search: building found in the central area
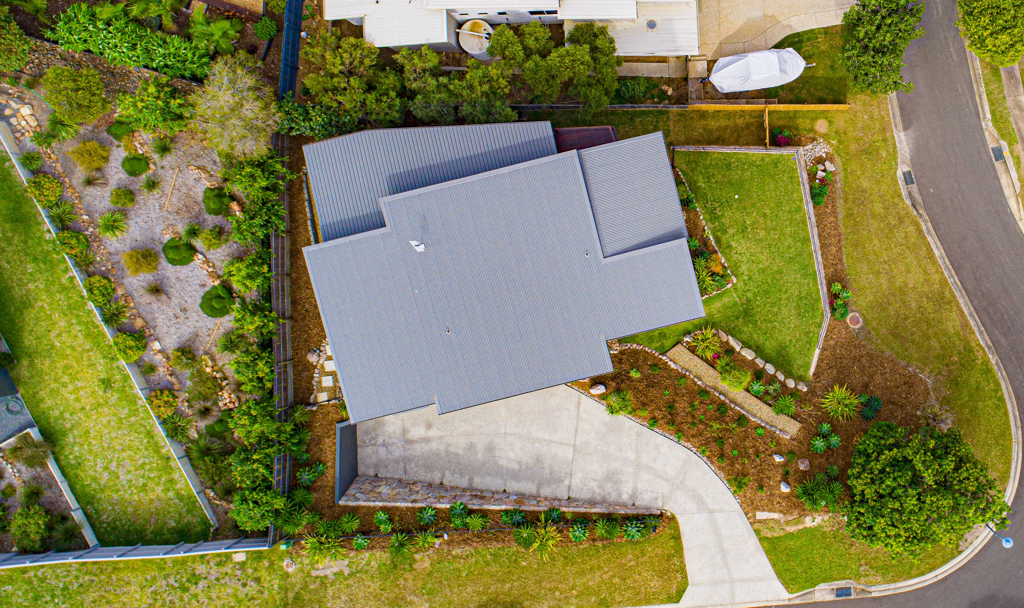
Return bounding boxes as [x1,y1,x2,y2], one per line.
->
[302,119,706,427]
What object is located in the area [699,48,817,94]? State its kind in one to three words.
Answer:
boat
